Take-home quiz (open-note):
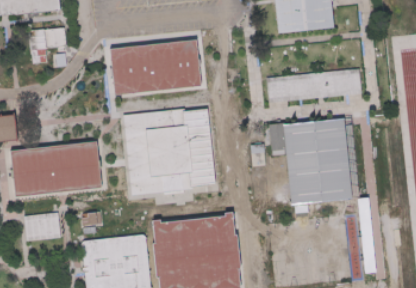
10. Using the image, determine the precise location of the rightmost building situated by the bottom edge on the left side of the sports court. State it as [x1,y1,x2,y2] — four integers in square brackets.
[153,212,240,288]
